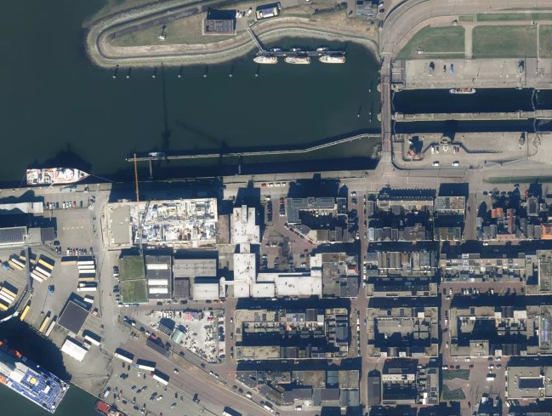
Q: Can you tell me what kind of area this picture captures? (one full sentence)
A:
It's a residential area.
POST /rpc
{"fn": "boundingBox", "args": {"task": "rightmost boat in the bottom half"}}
[95,401,124,416]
